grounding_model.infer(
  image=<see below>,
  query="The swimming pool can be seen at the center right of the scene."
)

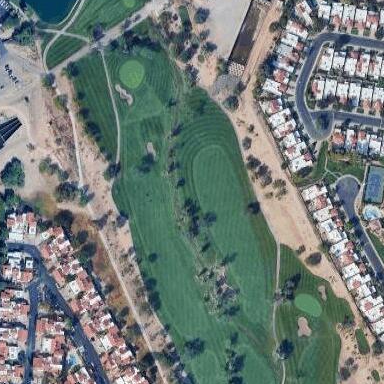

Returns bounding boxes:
[363,204,382,218]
